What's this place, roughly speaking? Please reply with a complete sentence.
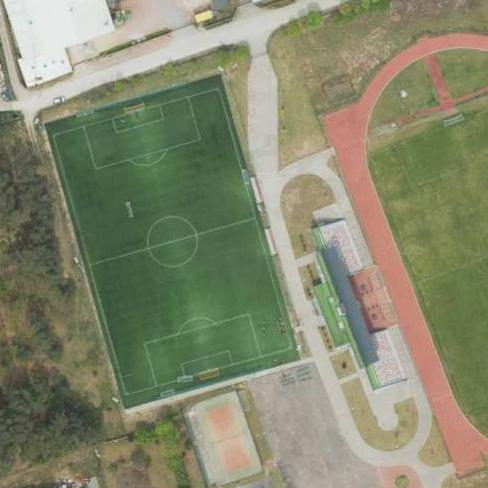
The picture captures a sports ground.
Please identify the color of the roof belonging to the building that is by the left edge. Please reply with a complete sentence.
From above, the roof of the building that is by the left edge looks white.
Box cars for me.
[53,96,66,102]
[2,88,11,100]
